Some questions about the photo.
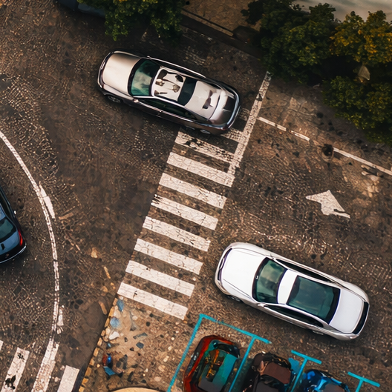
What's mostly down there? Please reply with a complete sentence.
What you mostly see from above here is paved ground.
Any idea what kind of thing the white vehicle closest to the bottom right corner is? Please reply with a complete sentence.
I'd say the white vehicle closest to the bottom right corner is a car.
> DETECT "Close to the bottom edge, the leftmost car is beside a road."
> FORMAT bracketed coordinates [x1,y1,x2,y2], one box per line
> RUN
[164,329,241,392]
